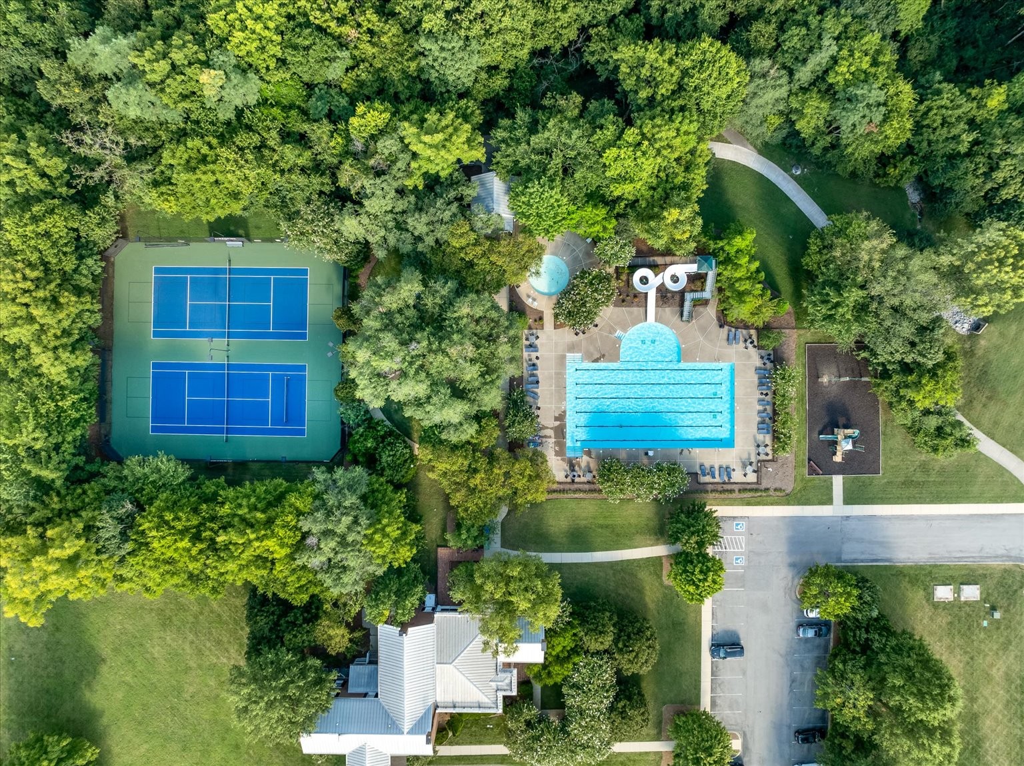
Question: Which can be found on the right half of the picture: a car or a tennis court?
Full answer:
It is a car that can be seen on the right half of the picture.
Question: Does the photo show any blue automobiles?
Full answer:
Yes, there's a blue automobile here.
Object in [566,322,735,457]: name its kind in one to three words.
swimming pool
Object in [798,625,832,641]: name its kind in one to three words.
car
